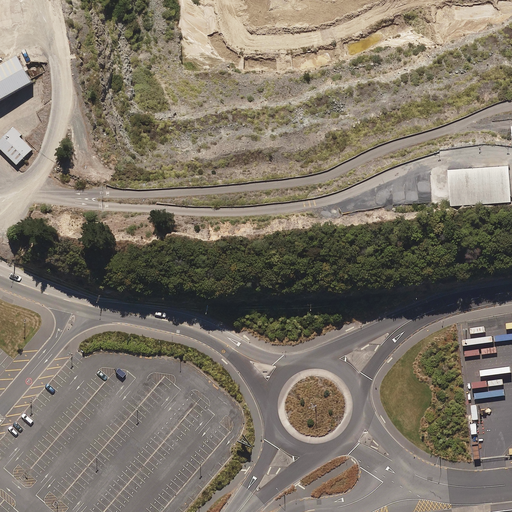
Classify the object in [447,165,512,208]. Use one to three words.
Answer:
building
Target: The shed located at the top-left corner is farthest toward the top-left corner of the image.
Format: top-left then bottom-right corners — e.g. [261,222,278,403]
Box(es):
[0,54,32,98]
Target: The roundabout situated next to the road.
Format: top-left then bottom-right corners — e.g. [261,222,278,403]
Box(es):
[260,350,372,462]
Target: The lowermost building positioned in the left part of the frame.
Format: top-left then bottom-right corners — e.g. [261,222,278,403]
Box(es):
[0,126,34,165]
